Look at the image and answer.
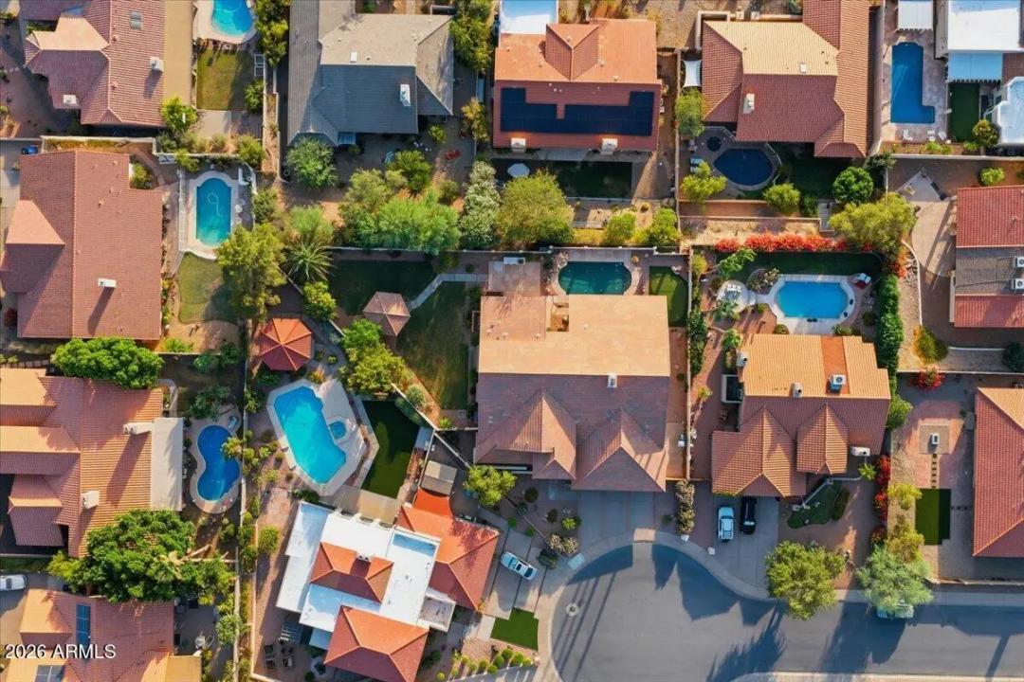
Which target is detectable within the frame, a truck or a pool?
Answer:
pool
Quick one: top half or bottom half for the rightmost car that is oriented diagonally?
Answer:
bottom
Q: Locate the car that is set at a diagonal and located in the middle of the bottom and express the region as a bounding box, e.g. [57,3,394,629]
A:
[499,550,539,582]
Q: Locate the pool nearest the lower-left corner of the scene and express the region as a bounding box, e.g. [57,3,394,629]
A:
[193,421,243,505]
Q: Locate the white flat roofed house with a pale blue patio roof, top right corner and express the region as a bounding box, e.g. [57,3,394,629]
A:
[920,0,1024,150]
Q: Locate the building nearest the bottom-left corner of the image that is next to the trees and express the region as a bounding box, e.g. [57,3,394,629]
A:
[3,587,211,682]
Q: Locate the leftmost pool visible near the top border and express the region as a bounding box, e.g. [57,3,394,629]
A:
[209,0,255,38]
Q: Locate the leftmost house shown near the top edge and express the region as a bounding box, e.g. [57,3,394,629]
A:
[19,0,200,127]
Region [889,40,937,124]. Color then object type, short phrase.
blue swimming pool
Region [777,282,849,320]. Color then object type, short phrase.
blue swimming pool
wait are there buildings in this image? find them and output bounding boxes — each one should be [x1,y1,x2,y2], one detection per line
[920,0,1024,150]
[3,587,211,682]
[474,256,670,492]
[492,0,661,153]
[0,369,193,560]
[703,0,869,157]
[421,459,457,496]
[19,0,200,127]
[969,388,1024,556]
[0,150,165,339]
[288,0,454,147]
[711,334,891,497]
[277,498,500,682]
[937,185,1024,327]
